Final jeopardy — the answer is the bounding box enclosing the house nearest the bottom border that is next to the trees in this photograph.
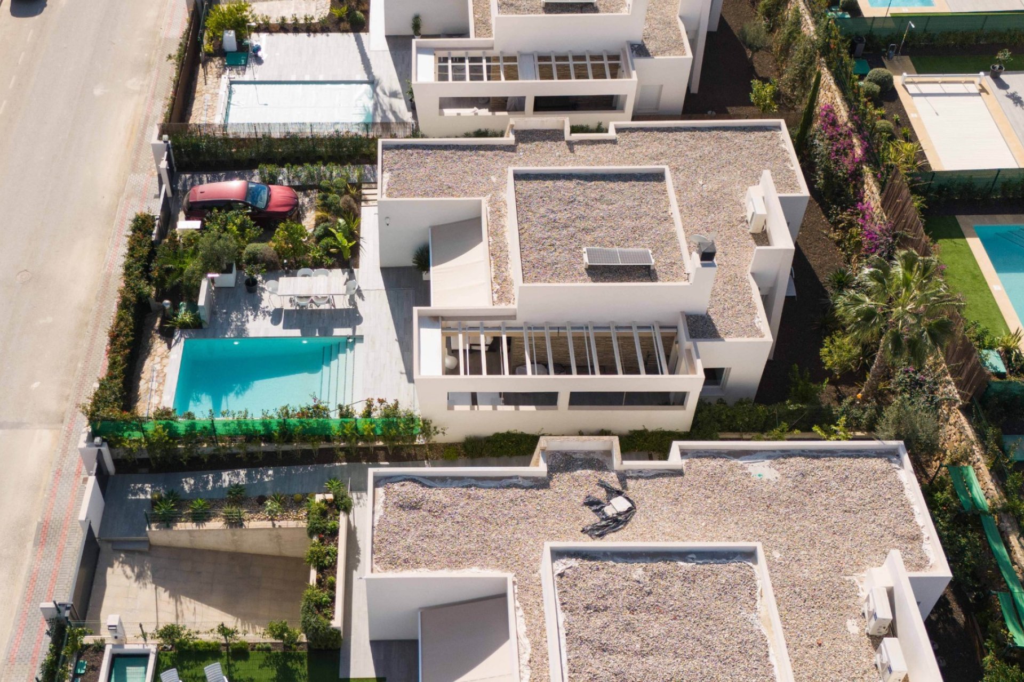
[363,436,949,682]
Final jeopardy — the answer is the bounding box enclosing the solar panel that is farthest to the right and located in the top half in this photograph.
[583,246,656,273]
